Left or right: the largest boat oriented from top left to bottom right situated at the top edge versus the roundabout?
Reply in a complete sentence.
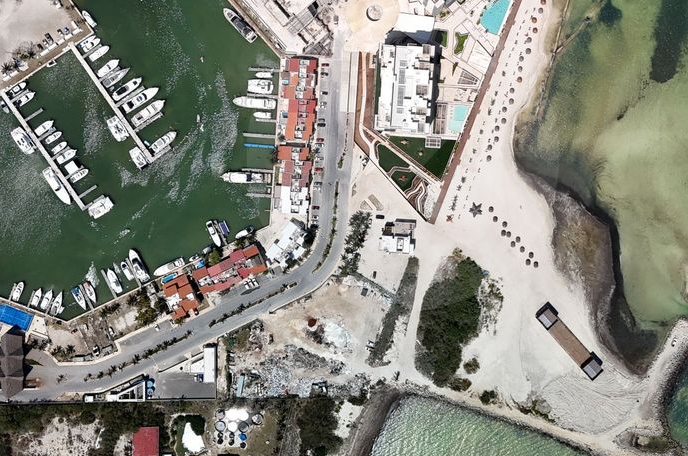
The largest boat oriented from top left to bottom right situated at the top edge can be seen on the left of the roundabout.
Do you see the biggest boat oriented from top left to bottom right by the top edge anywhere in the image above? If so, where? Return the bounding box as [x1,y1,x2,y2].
[223,8,258,45]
